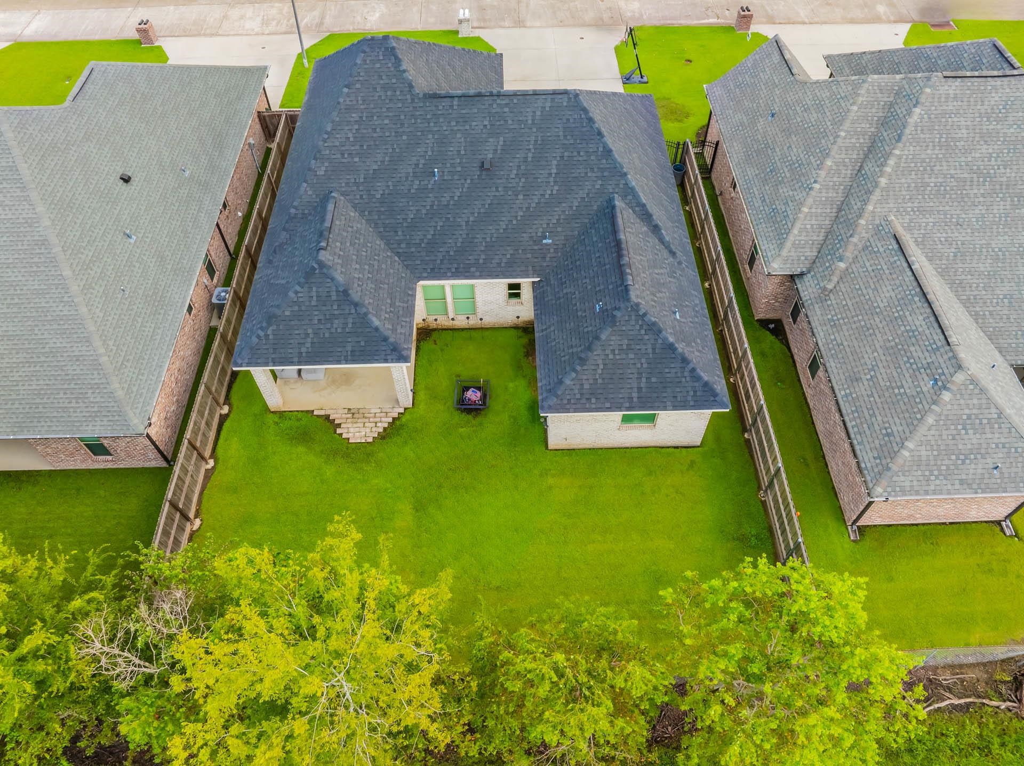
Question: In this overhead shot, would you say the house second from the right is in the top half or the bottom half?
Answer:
top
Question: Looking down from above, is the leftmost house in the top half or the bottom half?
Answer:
top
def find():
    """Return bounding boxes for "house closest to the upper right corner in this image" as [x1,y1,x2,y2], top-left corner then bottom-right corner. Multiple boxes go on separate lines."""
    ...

[698,31,1024,534]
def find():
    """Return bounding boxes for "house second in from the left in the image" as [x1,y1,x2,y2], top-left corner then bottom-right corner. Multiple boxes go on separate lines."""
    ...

[229,35,732,450]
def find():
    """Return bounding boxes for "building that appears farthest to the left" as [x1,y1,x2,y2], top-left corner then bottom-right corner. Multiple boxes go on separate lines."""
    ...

[0,60,275,471]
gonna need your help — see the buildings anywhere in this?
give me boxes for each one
[0,60,275,471]
[229,35,732,450]
[698,31,1024,534]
